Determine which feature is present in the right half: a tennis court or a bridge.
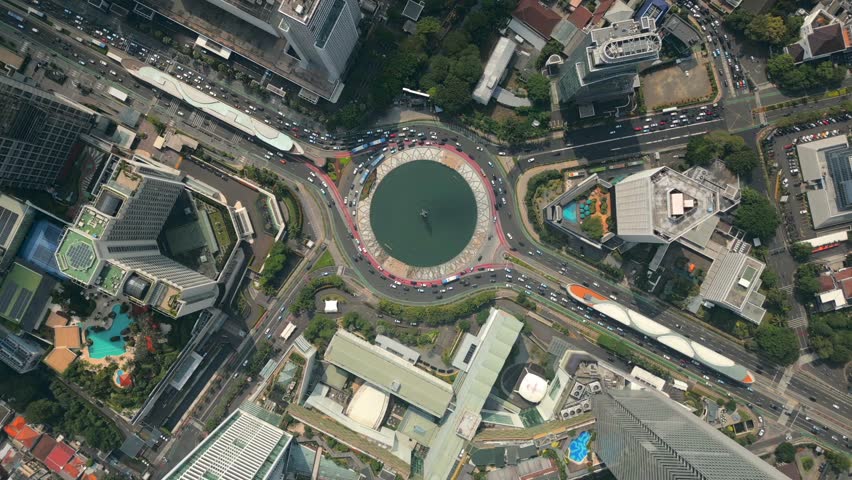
bridge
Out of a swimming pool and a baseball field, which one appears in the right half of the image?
swimming pool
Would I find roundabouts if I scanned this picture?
Yes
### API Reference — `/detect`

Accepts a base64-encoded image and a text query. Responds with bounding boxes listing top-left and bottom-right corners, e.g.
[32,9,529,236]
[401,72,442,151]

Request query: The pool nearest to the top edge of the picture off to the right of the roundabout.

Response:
[562,200,577,223]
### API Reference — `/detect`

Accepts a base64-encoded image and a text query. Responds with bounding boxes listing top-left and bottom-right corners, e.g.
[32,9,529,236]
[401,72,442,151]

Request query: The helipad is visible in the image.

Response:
[65,243,94,272]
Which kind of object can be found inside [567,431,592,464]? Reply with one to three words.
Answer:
swimming pool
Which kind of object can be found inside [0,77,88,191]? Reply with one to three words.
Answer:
building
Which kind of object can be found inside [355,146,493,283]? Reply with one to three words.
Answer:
roundabout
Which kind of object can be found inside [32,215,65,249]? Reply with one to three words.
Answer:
tennis court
